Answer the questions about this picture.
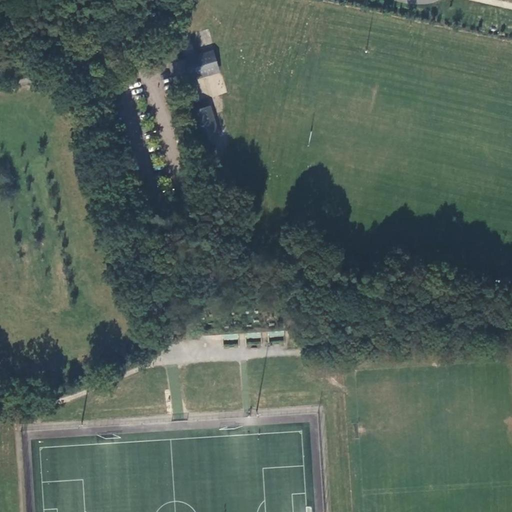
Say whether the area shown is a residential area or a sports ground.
sports ground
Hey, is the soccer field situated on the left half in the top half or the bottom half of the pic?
bottom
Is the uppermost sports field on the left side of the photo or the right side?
right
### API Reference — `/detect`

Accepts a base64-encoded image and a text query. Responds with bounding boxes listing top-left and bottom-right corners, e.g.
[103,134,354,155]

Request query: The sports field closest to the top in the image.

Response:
[196,0,512,287]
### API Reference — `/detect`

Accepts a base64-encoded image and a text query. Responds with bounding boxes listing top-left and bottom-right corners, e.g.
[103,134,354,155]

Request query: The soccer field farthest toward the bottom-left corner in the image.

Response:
[31,423,316,512]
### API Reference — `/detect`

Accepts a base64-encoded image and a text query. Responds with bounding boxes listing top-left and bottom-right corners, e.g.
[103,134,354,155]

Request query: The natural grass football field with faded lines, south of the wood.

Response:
[357,362,512,512]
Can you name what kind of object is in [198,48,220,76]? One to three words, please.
building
